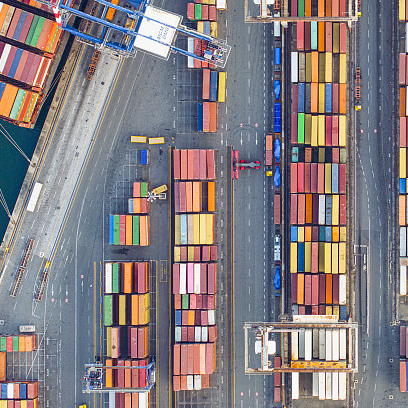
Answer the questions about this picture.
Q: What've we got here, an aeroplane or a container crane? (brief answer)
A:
container crane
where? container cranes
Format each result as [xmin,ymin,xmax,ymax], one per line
[83,355,160,394]
[30,0,237,73]
[245,310,359,374]
[245,0,359,34]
